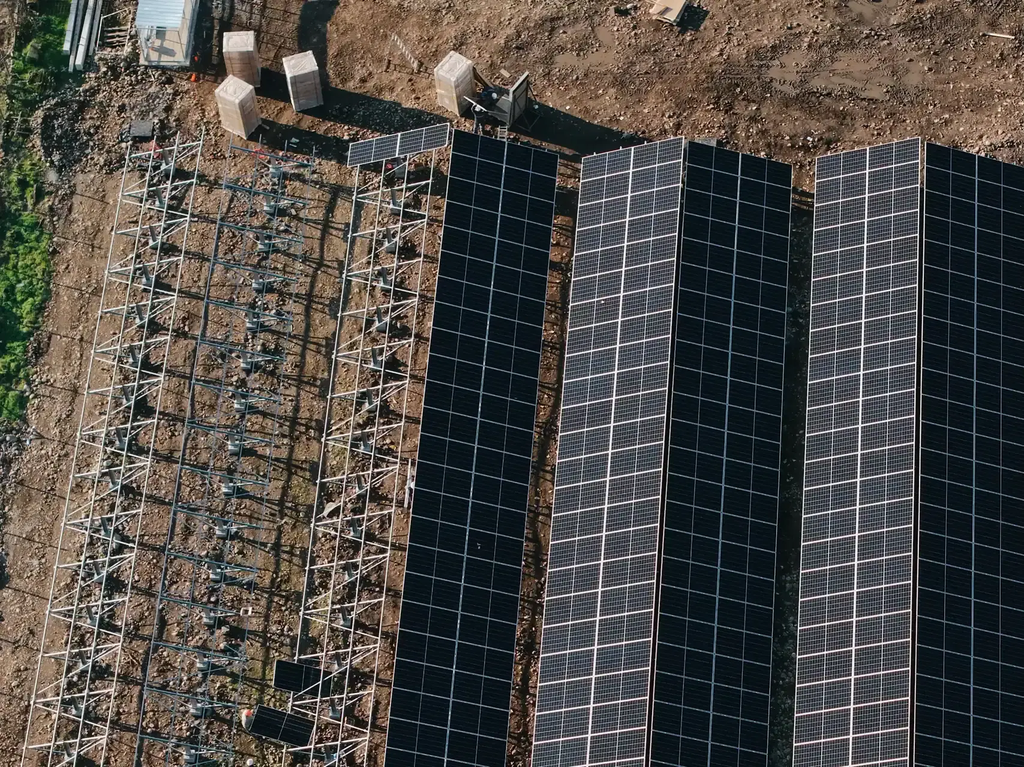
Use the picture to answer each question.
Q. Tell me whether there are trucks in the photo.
No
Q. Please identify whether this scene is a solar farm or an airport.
solar farm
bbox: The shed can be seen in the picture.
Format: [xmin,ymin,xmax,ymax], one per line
[127,0,208,69]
